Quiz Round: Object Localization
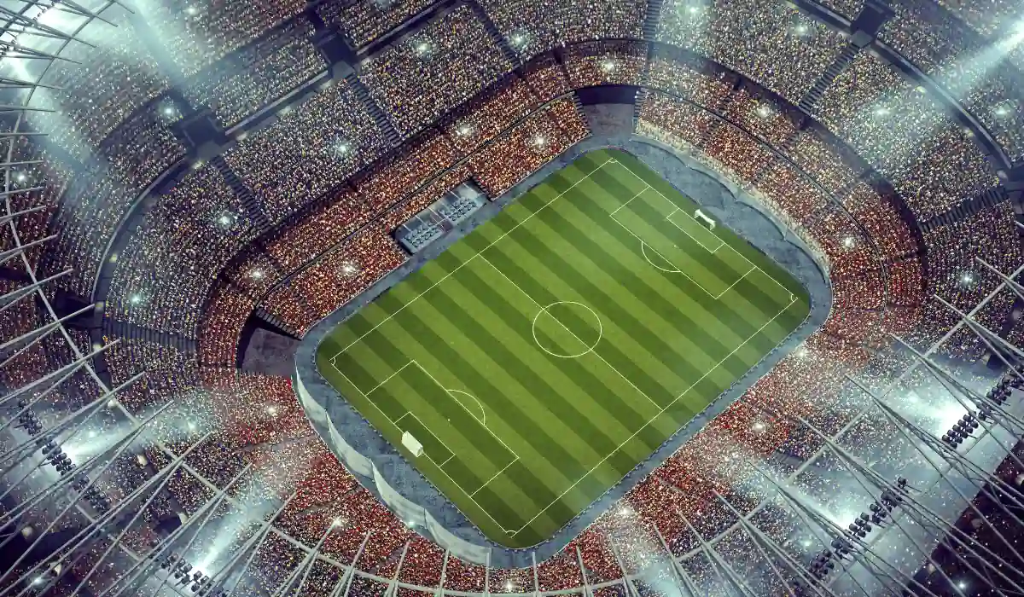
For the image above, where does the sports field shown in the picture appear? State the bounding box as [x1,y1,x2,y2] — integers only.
[318,150,810,549]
